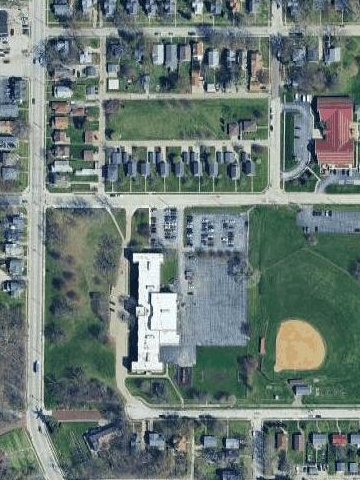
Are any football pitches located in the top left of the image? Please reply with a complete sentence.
No, there is no football pitch in the top left of the image.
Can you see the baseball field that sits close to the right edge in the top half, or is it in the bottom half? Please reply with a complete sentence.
The baseball field that sits close to the right edge is in the bottom half of the image.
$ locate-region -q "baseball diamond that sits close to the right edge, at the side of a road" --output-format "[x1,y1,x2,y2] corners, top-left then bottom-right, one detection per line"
[261,249,360,380]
